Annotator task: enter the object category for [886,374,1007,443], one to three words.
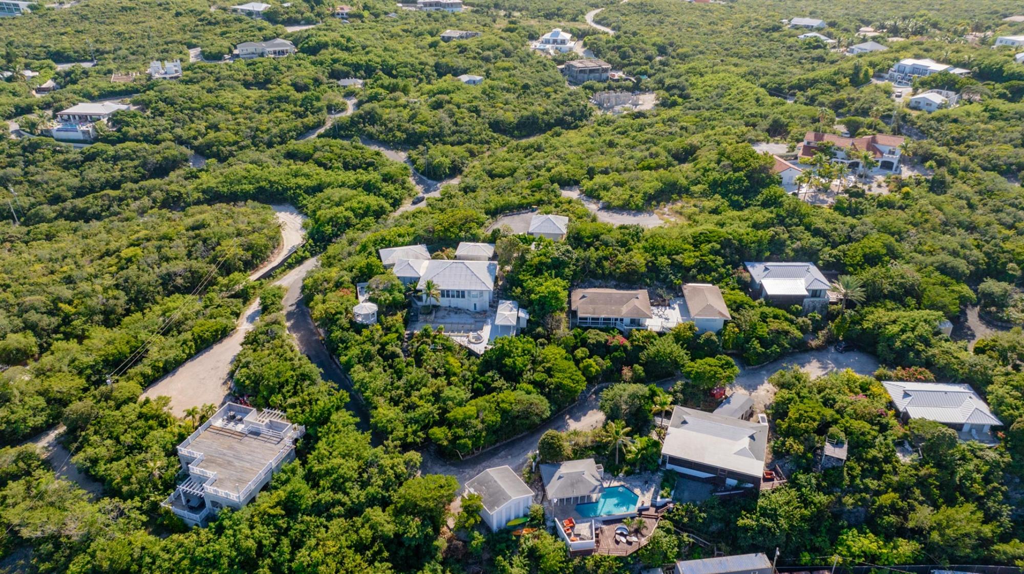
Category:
house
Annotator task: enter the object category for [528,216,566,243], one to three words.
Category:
building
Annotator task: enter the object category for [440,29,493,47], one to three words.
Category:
house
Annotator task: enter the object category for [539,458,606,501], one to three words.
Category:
building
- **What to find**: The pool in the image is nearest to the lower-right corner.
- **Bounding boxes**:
[549,471,665,528]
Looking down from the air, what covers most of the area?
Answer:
trees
